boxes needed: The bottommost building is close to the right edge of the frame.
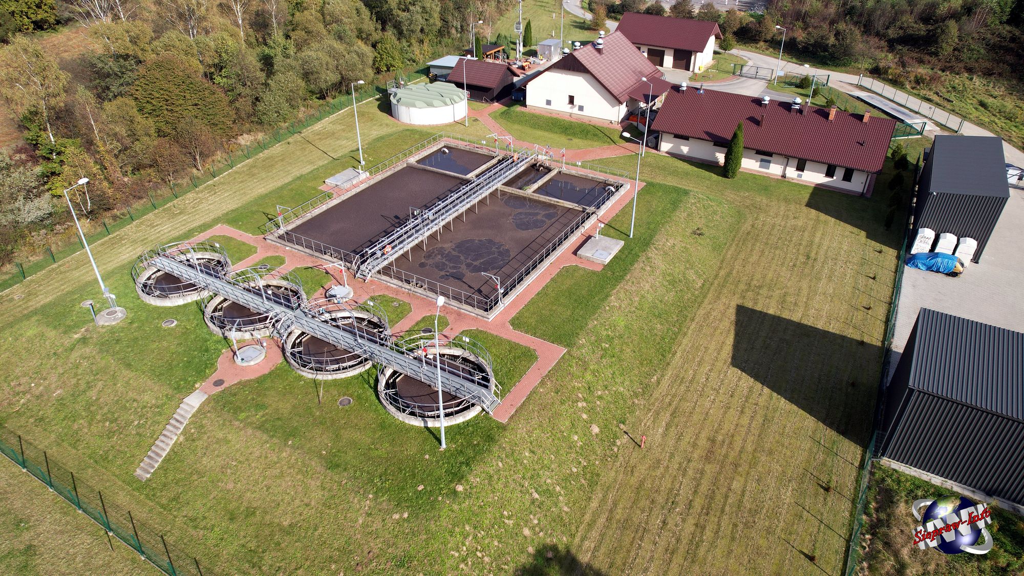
[877,304,1024,515]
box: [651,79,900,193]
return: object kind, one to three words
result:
house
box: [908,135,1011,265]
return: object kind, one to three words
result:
building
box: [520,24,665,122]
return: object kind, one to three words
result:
house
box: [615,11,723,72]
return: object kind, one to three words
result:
building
